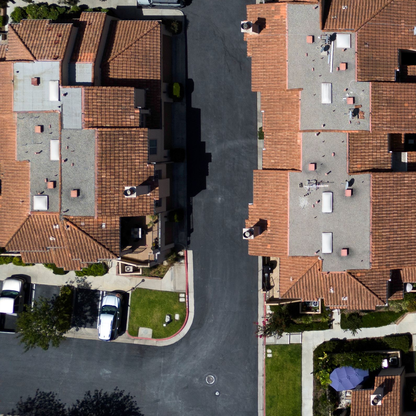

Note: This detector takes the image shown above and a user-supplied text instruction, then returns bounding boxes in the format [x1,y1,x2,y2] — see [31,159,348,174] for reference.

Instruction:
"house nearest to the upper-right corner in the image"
[241,0,416,314]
